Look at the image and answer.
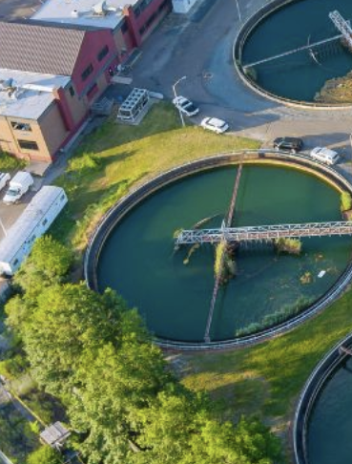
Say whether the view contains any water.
Yes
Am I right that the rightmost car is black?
No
